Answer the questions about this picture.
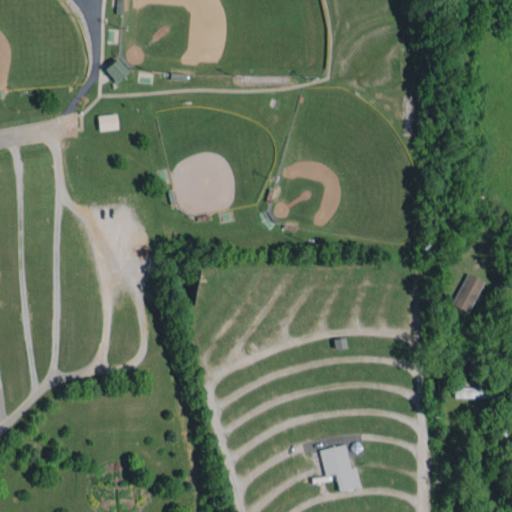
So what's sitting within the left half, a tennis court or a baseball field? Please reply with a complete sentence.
You can see a baseball field within the left half.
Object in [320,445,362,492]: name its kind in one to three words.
building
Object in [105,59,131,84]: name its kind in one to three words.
building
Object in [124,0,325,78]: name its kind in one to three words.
baseball field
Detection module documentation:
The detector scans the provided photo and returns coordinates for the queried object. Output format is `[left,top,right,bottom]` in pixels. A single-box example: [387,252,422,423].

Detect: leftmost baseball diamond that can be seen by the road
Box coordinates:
[0,0,87,97]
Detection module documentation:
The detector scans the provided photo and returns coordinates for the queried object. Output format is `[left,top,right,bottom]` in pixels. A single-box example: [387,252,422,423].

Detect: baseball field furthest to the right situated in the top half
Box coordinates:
[268,88,414,244]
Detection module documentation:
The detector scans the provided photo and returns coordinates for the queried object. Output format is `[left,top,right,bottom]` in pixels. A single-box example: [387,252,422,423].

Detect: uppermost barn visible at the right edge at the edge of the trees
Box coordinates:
[454,274,488,312]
